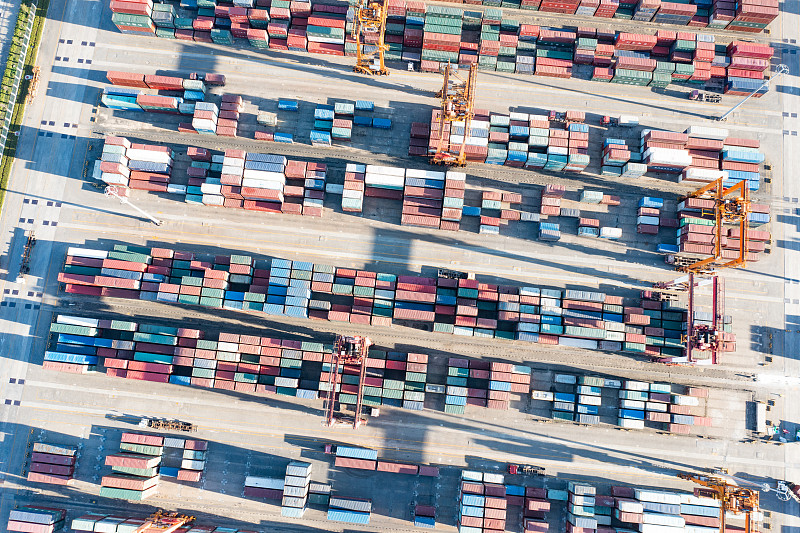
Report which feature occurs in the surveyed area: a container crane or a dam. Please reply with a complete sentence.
The one in the frame is a container crane.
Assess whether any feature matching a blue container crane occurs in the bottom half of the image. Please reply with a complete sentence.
No, I can find no blue container crane in the bottom half of the image.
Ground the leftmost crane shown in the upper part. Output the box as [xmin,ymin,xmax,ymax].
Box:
[350,0,401,77]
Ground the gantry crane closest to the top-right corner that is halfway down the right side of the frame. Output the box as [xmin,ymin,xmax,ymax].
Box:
[676,173,754,277]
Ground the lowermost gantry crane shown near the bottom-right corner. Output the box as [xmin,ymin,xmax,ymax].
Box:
[677,471,760,533]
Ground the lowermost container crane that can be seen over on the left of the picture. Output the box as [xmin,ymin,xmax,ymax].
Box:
[123,509,192,533]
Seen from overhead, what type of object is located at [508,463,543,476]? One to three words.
vehicle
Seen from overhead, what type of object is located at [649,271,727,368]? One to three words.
container crane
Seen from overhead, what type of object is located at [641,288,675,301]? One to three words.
vehicle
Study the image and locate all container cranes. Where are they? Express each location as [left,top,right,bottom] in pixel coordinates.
[123,509,192,533]
[350,0,401,77]
[649,271,727,368]
[427,59,482,169]
[677,471,760,533]
[325,331,378,427]
[676,173,754,277]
